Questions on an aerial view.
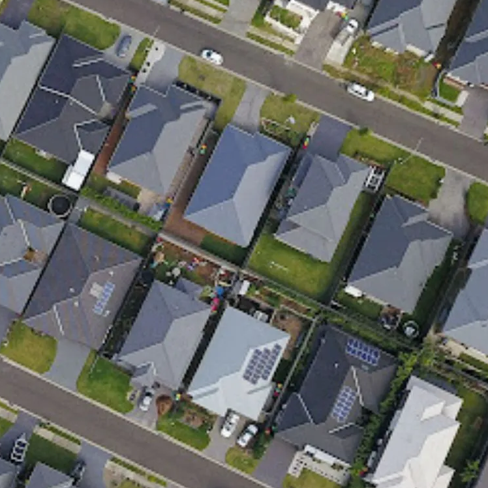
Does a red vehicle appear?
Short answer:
No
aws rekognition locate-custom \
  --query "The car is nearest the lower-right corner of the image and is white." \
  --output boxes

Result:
[240,425,259,448]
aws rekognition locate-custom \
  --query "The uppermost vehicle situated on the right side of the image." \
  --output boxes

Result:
[337,18,361,46]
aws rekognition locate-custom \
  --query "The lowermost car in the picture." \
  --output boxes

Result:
[72,458,89,482]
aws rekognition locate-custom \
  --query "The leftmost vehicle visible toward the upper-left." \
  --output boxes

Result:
[116,33,135,58]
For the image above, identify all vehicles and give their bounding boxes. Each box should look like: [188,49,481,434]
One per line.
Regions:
[116,33,135,58]
[221,411,240,438]
[72,458,89,482]
[140,386,156,412]
[337,18,361,46]
[201,48,225,65]
[348,82,375,101]
[240,425,259,448]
